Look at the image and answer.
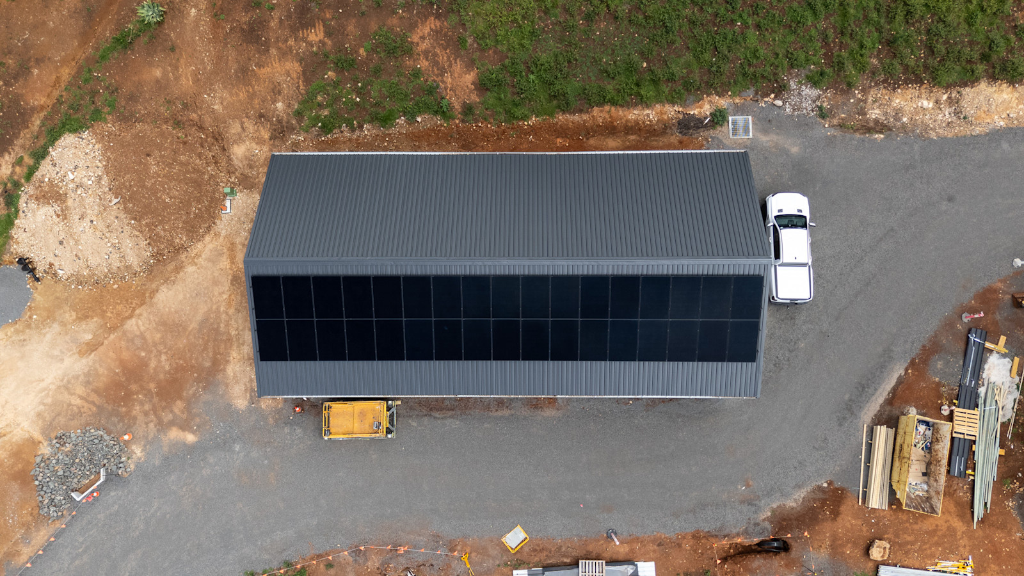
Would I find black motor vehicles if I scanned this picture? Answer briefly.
No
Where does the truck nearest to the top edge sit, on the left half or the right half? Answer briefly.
right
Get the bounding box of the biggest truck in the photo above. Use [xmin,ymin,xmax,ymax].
[761,192,814,306]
